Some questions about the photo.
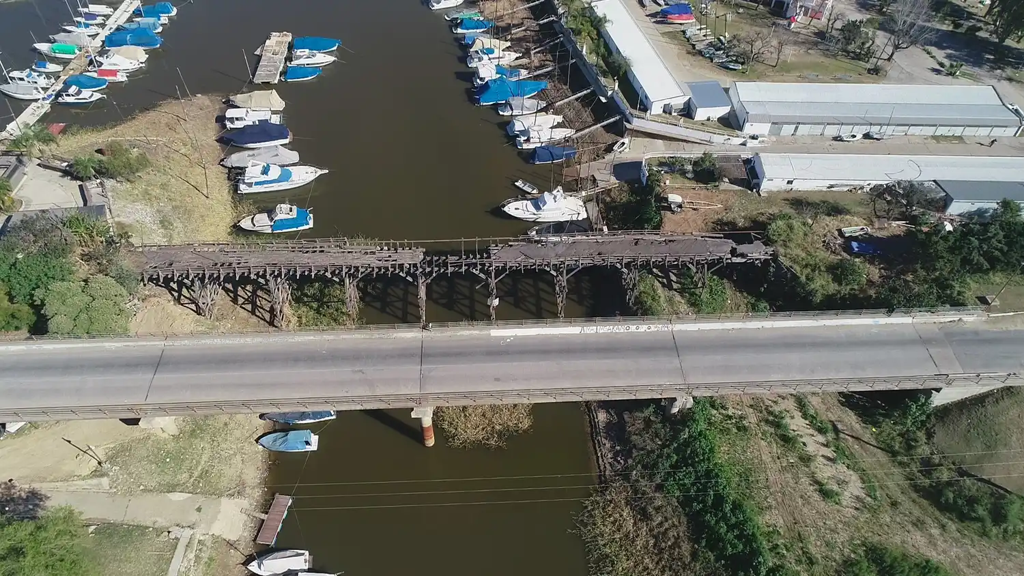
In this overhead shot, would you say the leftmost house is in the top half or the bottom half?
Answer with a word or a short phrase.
top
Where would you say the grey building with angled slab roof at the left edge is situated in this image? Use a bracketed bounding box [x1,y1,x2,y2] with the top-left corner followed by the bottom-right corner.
[0,155,30,207]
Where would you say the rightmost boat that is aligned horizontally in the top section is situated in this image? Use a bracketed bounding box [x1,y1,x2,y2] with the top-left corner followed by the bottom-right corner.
[841,223,872,237]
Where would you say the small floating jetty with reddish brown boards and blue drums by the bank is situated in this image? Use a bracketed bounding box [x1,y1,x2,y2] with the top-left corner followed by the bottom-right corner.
[238,495,294,546]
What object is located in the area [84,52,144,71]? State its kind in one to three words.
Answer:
boat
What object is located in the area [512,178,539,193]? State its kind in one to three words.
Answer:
boat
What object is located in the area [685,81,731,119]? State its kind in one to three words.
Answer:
shed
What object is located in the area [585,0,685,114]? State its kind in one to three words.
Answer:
building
